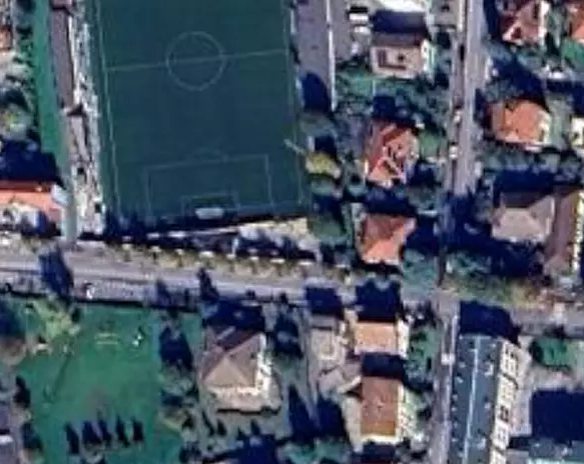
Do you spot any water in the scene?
No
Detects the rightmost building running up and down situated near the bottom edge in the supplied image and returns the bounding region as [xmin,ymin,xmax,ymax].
[450,335,516,464]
